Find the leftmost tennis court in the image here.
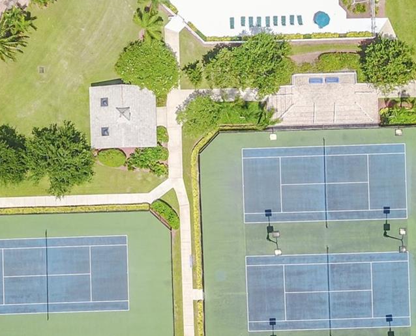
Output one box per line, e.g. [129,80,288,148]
[0,231,130,321]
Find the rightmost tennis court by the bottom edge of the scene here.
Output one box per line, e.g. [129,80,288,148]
[246,247,411,336]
